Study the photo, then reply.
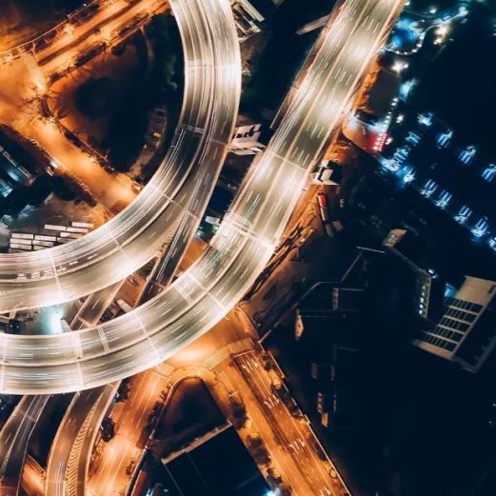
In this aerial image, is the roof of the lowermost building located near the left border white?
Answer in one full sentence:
No, the color of the roof of the lowermost building located near the left border is black.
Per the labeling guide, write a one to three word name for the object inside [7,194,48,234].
building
